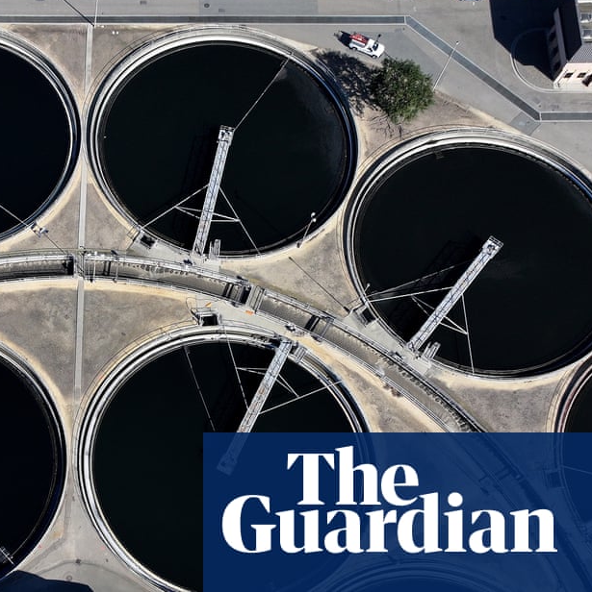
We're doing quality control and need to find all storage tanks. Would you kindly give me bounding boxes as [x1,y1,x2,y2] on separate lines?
[339,123,592,385]
[85,20,362,262]
[73,318,386,592]
[0,24,85,241]
[0,335,72,587]
[548,354,592,554]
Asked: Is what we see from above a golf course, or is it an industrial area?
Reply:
industrial area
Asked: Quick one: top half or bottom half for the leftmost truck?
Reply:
top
